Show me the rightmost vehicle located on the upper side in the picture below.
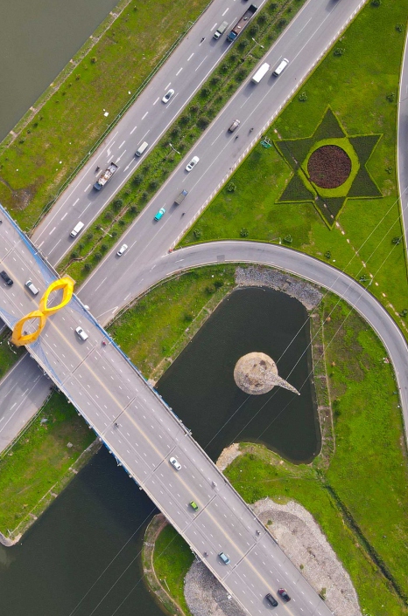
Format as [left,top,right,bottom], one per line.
[273,57,290,77]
